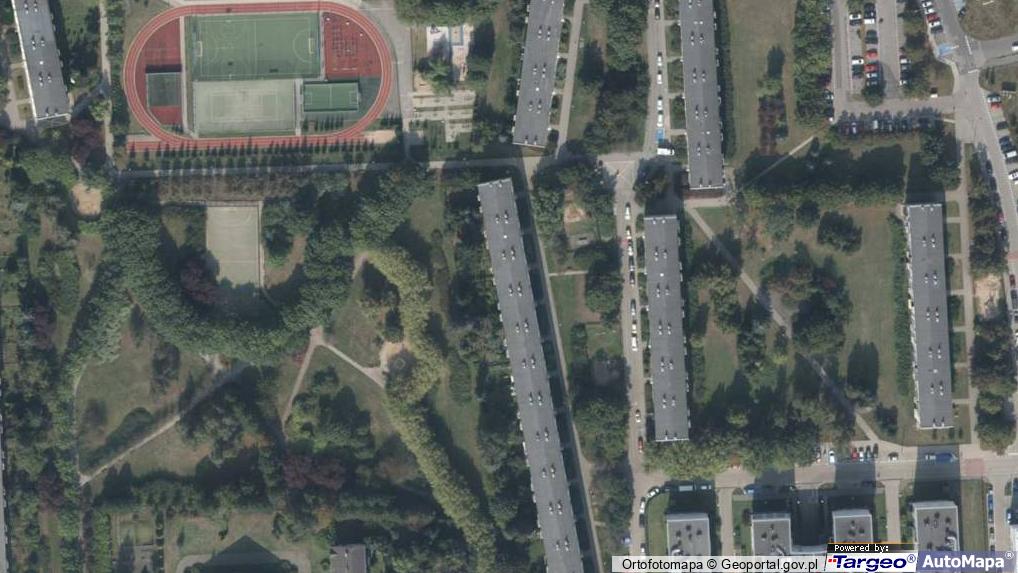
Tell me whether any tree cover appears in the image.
Yes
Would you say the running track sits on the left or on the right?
left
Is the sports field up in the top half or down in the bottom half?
top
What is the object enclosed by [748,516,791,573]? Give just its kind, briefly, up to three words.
building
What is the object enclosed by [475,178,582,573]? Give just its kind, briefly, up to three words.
building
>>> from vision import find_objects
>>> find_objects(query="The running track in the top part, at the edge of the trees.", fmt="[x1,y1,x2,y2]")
[123,0,394,152]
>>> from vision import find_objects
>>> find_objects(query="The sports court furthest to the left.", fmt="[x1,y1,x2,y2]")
[147,76,181,106]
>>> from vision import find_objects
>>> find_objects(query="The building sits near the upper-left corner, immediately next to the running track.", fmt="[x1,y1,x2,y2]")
[15,0,78,121]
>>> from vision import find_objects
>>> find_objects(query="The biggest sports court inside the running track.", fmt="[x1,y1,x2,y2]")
[194,80,296,136]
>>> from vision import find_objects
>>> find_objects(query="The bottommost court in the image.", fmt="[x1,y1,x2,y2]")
[206,206,259,290]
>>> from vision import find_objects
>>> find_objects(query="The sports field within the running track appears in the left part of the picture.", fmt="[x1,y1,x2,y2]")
[193,16,318,81]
